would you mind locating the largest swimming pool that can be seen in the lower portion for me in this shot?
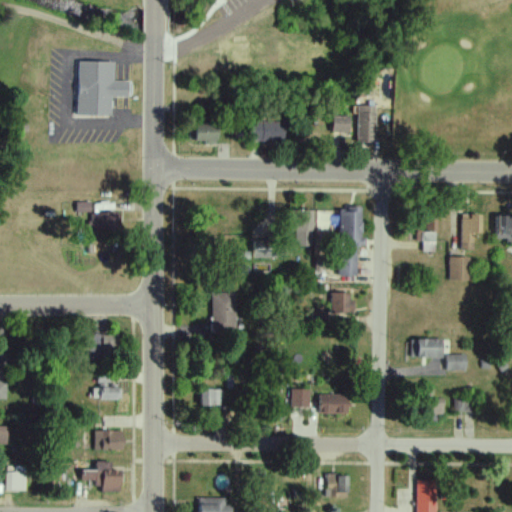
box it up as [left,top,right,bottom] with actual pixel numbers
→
[215,474,230,490]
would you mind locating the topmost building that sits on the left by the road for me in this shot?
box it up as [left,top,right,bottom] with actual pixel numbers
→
[77,60,133,115]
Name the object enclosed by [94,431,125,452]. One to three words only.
house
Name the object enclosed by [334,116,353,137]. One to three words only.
building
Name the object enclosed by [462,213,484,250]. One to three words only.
house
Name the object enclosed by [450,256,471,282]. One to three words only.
building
